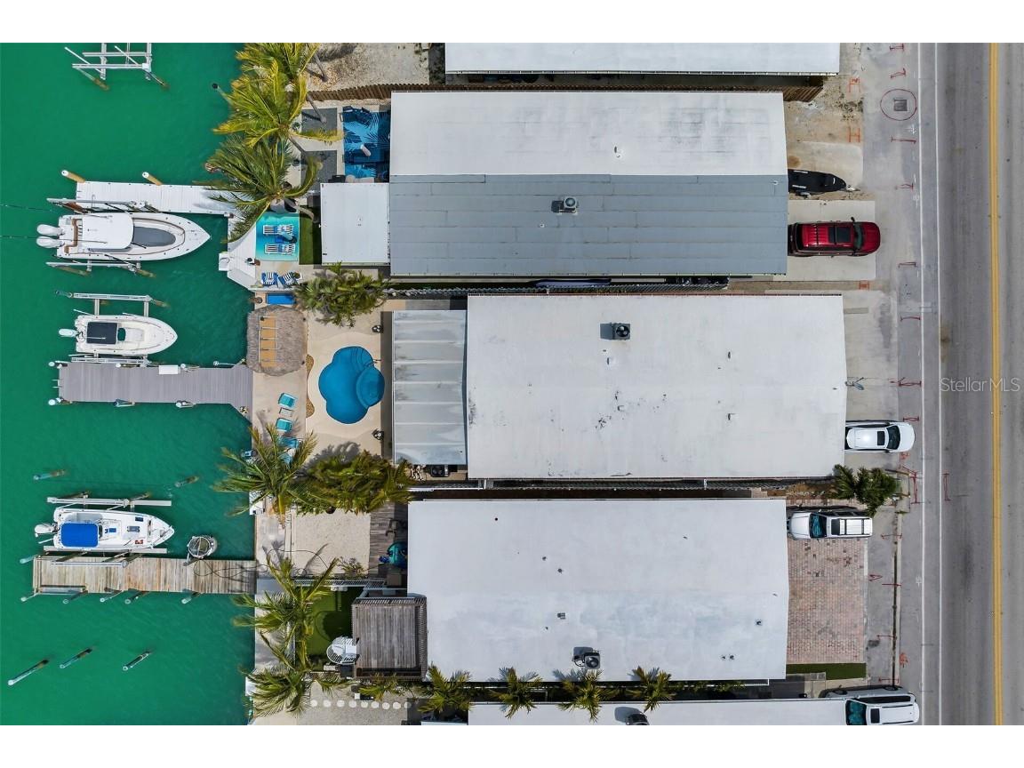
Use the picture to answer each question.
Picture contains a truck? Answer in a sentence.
No, this view has no truck in it.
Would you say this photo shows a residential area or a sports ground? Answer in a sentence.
This looks like a residential area.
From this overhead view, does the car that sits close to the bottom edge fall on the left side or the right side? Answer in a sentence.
The car that sits close to the bottom edge appears in the right half of the scene.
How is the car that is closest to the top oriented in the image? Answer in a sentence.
What the image shows is the car that is closest to the top lying from left to right.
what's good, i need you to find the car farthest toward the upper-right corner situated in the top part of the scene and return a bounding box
[788,214,883,259]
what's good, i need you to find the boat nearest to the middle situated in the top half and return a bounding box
[535,275,613,288]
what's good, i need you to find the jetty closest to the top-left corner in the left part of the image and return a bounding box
[62,170,236,215]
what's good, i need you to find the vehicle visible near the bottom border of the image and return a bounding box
[810,683,917,734]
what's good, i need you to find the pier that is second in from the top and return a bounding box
[48,354,254,420]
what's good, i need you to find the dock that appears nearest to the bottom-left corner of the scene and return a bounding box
[19,550,258,604]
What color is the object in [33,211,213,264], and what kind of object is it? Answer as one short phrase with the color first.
white boat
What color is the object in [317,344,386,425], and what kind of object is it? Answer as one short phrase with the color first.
blue swimming pool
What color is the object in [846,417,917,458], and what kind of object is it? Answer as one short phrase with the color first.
white car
